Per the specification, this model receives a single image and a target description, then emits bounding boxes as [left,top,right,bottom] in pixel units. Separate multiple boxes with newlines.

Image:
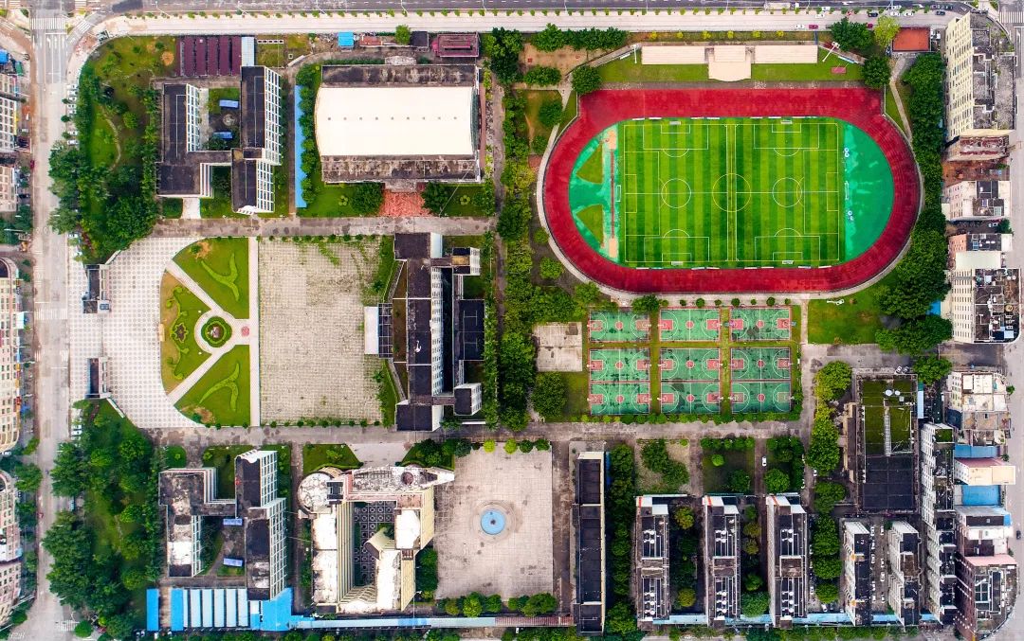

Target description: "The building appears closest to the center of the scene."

[365,233,488,431]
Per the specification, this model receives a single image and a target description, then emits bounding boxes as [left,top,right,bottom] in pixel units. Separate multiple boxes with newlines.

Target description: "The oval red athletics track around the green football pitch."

[536,81,925,299]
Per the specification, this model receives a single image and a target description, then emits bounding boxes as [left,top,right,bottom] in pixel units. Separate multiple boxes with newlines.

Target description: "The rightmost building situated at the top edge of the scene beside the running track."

[946,10,1015,166]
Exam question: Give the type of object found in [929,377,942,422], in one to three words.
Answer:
shed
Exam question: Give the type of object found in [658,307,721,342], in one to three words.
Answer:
basketball court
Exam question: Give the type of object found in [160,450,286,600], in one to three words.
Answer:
building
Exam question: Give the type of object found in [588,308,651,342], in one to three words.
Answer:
basketball court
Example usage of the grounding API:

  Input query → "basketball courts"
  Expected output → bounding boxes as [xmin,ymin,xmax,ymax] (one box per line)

[658,307,721,342]
[730,307,791,341]
[730,380,792,415]
[659,347,721,381]
[659,381,721,415]
[588,308,651,342]
[730,346,792,381]
[589,381,652,416]
[588,347,651,381]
